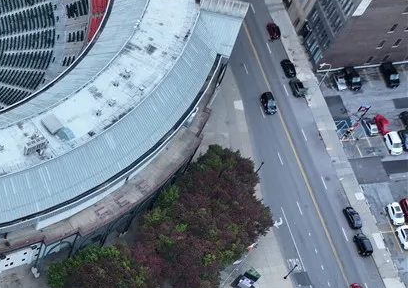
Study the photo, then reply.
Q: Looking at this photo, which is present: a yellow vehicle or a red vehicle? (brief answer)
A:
red vehicle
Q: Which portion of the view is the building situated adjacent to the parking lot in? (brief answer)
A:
top right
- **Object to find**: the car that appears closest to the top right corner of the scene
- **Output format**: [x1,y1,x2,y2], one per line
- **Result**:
[381,65,399,85]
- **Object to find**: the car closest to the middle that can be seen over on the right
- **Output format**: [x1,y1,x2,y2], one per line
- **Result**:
[260,92,277,112]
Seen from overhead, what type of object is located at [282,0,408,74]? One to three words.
building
